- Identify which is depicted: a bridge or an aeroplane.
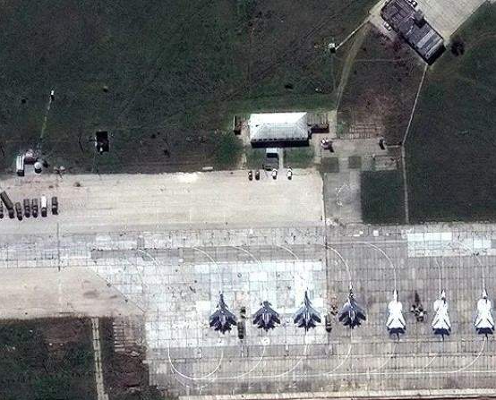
aeroplane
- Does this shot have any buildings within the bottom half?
No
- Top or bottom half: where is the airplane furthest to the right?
bottom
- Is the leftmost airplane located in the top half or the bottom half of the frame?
bottom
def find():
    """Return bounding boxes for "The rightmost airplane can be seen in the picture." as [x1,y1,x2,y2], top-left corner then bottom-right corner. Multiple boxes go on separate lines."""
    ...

[475,291,495,331]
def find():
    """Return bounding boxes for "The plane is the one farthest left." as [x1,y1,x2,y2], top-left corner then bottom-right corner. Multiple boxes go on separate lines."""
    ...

[208,292,236,331]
